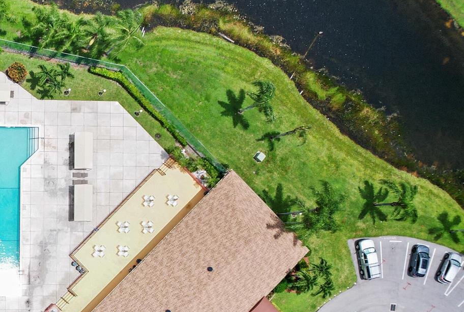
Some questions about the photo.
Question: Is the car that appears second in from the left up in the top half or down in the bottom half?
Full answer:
It is in the bottom half that the car that appears second in from the left appears.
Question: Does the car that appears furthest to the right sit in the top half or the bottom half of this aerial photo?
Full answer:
The car that appears furthest to the right is in the bottom half of the image.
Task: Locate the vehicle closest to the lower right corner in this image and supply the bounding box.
[437,250,464,286]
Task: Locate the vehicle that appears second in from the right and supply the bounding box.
[406,244,428,278]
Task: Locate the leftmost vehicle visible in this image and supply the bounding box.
[354,241,380,280]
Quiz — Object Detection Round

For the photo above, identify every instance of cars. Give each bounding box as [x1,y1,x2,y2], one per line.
[354,241,380,280]
[406,244,428,278]
[437,250,464,286]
